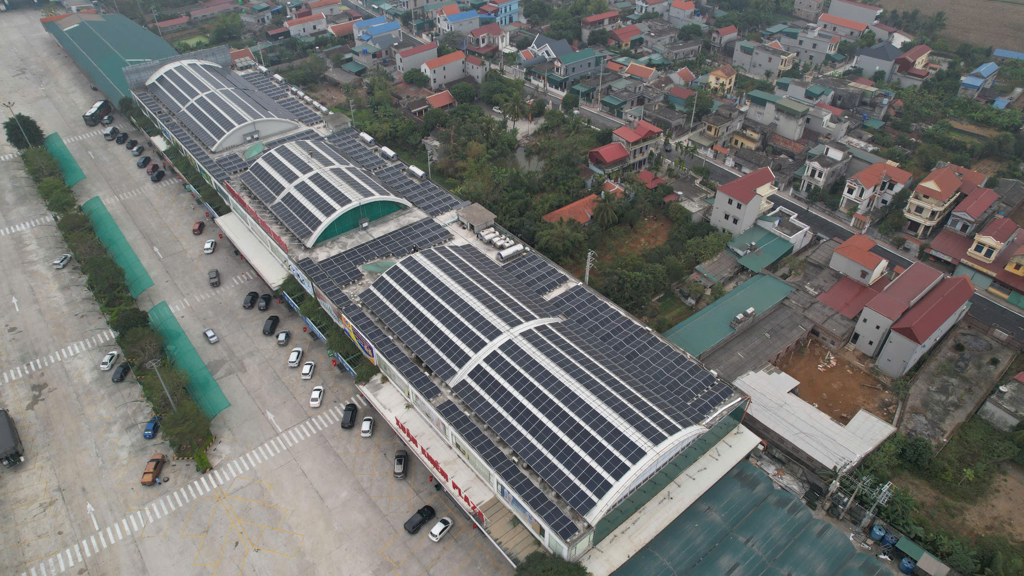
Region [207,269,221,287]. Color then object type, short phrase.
gray car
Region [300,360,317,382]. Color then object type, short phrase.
white car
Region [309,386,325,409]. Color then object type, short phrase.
white car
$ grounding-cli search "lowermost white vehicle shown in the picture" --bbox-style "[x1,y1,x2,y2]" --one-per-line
[428,515,455,544]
